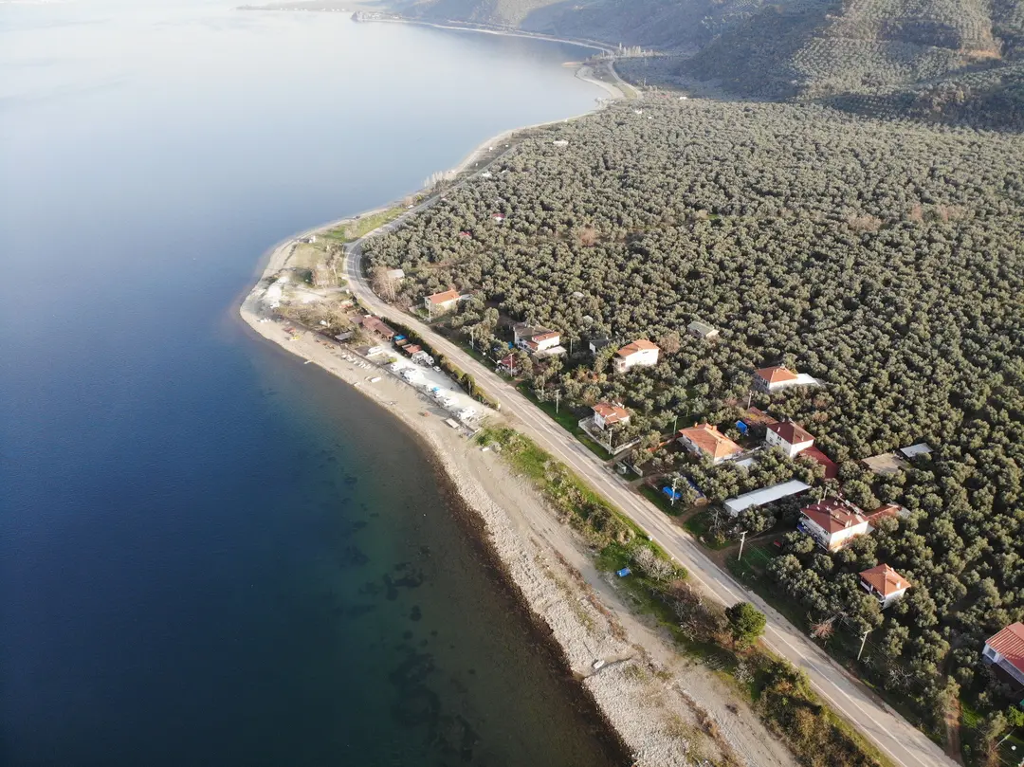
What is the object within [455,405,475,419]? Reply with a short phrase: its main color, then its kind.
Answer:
white camper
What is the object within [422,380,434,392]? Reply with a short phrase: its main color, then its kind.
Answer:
white vehicle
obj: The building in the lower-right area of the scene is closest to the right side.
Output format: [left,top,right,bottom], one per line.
[979,628,1024,697]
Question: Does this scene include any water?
Yes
